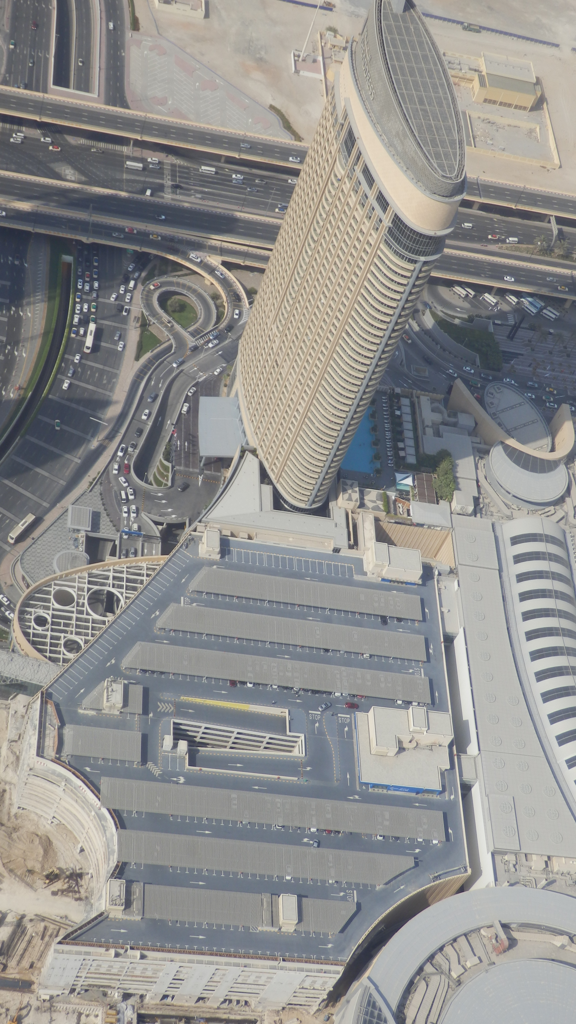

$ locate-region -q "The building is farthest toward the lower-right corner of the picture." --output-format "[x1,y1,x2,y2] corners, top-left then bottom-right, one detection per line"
[320,887,576,1024]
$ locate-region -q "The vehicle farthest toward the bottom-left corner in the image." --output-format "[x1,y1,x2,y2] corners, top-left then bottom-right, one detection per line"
[5,999,28,1024]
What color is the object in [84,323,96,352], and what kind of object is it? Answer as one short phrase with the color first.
white vehicle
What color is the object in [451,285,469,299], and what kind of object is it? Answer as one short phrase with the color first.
white vehicle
